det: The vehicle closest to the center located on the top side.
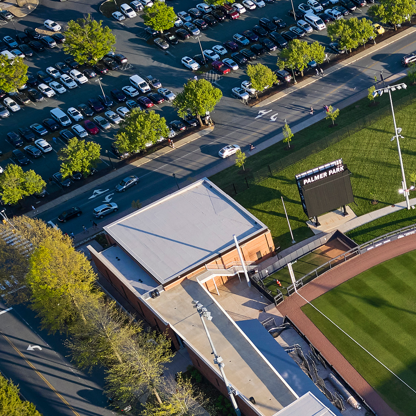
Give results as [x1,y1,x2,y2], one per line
[216,140,241,157]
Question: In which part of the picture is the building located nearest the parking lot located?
center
